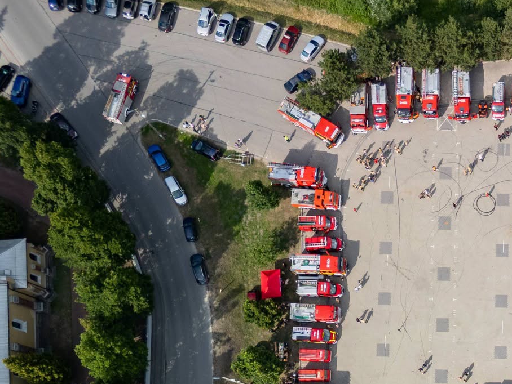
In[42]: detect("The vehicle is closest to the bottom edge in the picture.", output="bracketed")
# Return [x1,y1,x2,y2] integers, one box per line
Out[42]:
[297,367,335,384]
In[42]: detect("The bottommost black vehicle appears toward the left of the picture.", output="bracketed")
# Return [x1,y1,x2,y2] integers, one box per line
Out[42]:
[189,253,209,286]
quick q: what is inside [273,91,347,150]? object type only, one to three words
truck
